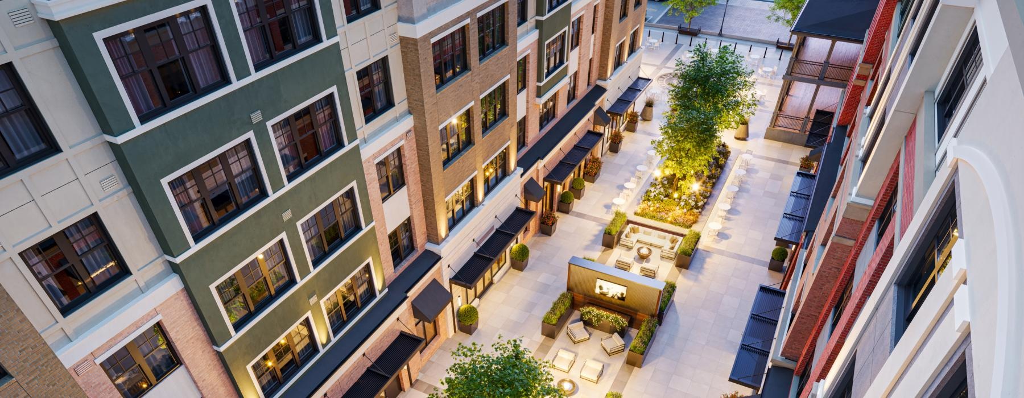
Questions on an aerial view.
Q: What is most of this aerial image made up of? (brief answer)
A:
buildings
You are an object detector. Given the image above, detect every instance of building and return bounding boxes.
[728,0,1024,398]
[0,0,653,398]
